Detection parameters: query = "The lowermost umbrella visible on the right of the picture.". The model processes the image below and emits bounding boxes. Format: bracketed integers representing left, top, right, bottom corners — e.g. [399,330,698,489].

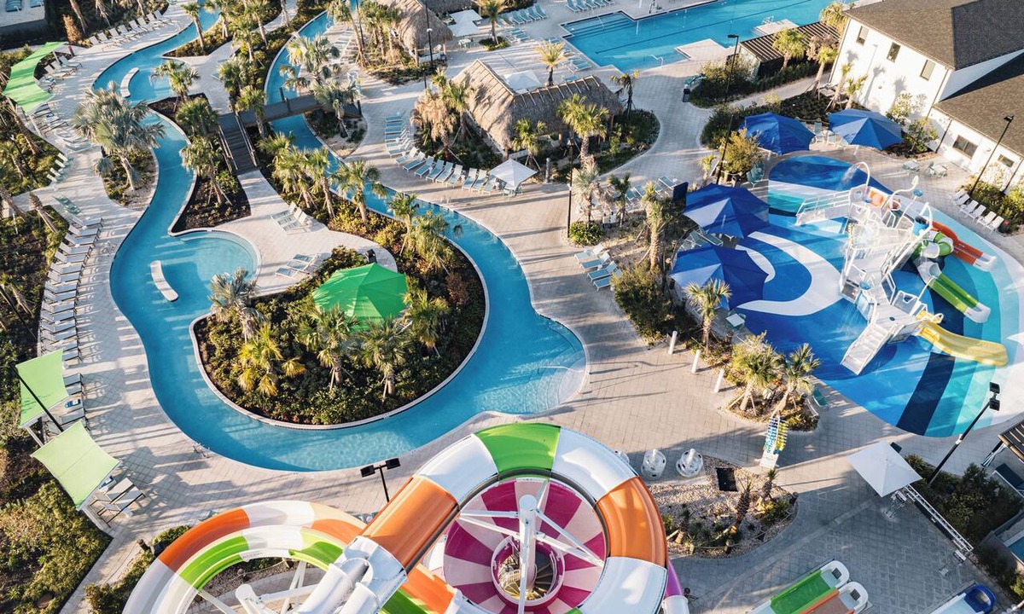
[846,440,922,502]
